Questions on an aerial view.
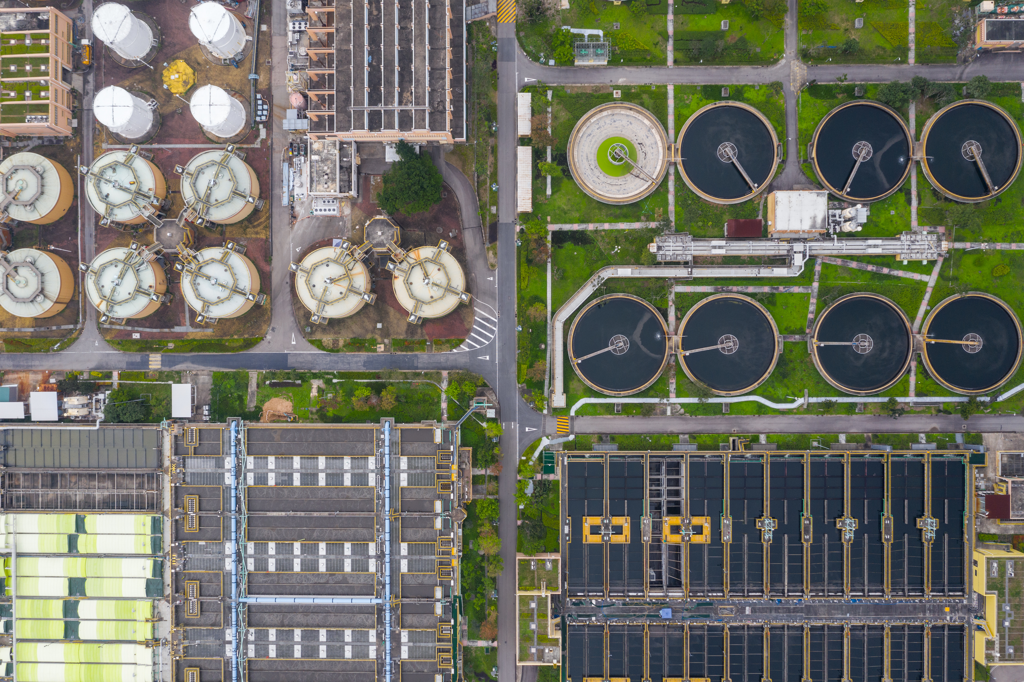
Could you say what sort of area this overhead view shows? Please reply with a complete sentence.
It's an industrial area.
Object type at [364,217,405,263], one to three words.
building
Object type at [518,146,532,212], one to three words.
shed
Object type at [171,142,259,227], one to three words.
storage tank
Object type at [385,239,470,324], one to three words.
storage tank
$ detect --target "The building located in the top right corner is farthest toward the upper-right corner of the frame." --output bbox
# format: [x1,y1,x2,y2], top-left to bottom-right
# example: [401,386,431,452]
[973,19,1024,53]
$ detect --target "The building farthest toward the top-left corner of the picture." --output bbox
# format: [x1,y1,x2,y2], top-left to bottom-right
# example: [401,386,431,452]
[0,7,75,135]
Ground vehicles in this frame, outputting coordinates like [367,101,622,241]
[68,37,91,72]
[282,409,296,420]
